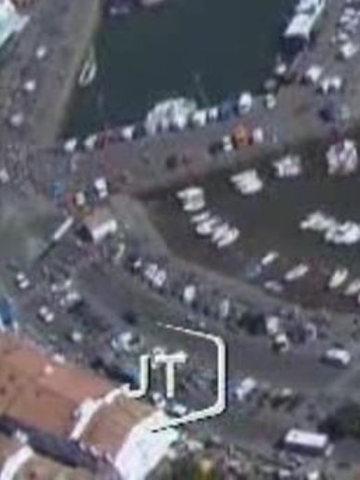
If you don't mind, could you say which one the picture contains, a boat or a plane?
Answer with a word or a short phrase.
boat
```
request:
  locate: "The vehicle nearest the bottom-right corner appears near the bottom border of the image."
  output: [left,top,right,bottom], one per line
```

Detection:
[304,465,321,480]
